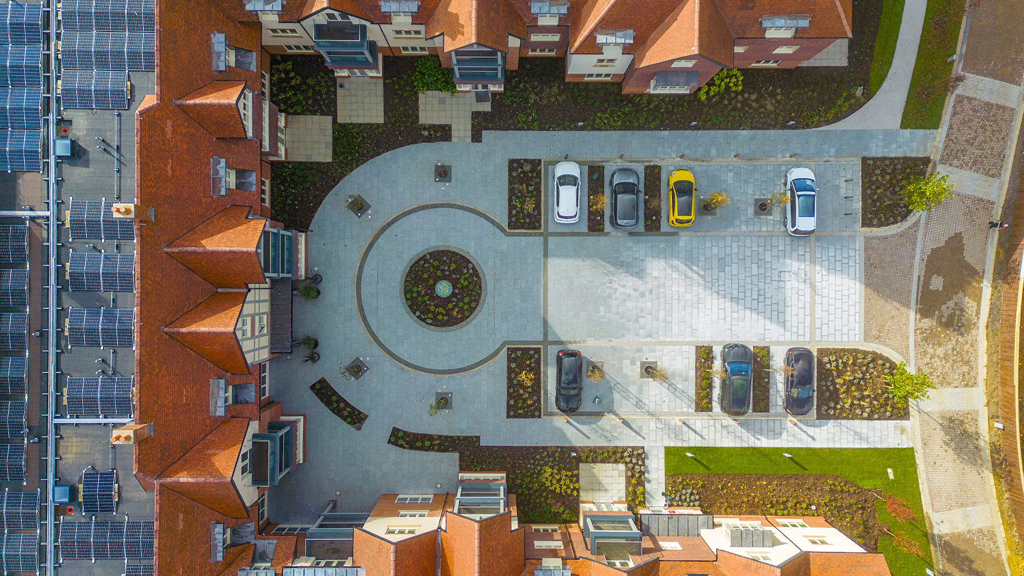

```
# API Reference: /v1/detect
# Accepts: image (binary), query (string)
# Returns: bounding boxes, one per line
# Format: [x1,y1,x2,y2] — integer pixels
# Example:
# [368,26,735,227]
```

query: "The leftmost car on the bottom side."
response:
[553,349,585,411]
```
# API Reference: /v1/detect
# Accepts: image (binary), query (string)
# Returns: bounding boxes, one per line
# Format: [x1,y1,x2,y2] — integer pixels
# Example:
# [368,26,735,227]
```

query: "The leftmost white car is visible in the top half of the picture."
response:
[551,162,584,223]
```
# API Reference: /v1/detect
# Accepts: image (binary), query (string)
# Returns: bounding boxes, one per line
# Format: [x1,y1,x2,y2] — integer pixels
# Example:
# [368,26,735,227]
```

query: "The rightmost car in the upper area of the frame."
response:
[780,167,820,236]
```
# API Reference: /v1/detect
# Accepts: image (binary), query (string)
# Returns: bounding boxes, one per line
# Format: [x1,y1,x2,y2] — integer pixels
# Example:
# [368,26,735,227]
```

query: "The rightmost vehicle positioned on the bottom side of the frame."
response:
[780,347,819,415]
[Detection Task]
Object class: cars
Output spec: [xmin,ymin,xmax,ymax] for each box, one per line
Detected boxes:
[716,343,757,415]
[553,349,585,411]
[551,162,584,223]
[780,167,820,236]
[666,170,699,227]
[780,347,819,415]
[608,169,642,230]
